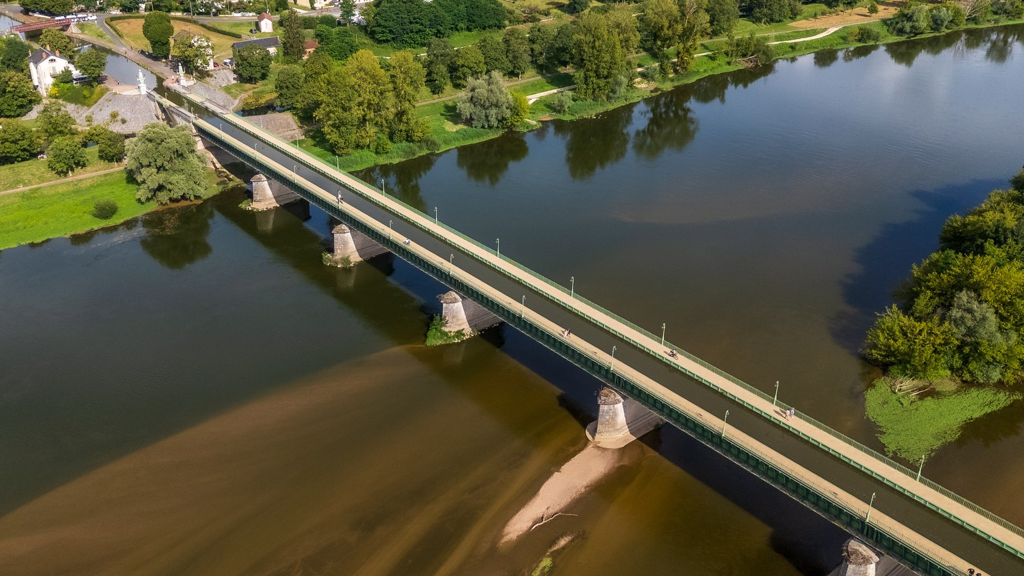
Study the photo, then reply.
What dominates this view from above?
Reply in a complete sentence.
The largest share of the image is taken up by water.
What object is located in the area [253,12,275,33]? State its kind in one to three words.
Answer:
building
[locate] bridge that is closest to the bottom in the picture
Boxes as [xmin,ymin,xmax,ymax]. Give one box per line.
[153,88,1024,576]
